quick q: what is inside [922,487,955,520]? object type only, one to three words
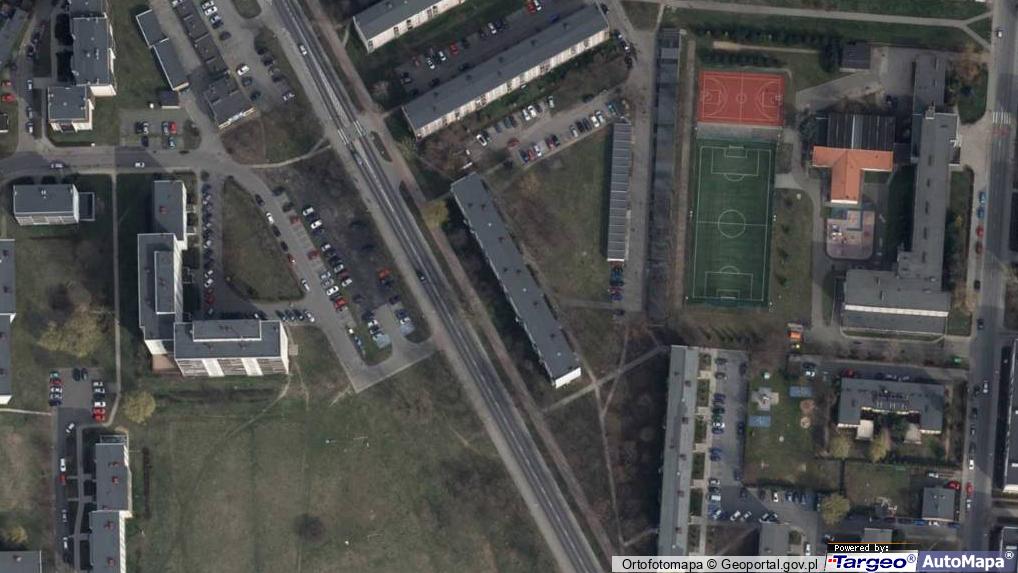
house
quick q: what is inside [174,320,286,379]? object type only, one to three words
building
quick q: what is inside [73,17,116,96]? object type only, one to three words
building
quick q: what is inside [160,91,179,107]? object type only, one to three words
shed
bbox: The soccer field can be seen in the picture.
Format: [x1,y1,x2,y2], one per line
[687,122,783,306]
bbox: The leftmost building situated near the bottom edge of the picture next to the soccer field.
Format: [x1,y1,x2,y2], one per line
[655,346,701,573]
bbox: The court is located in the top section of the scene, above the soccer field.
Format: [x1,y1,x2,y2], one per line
[698,71,784,127]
